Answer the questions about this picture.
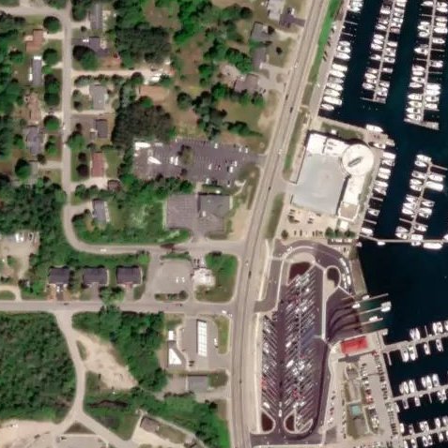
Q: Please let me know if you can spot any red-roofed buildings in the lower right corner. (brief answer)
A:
Yes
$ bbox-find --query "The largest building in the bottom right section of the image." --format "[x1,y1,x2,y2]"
[340,335,368,353]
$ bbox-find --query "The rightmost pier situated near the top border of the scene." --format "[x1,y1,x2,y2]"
[405,0,448,129]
